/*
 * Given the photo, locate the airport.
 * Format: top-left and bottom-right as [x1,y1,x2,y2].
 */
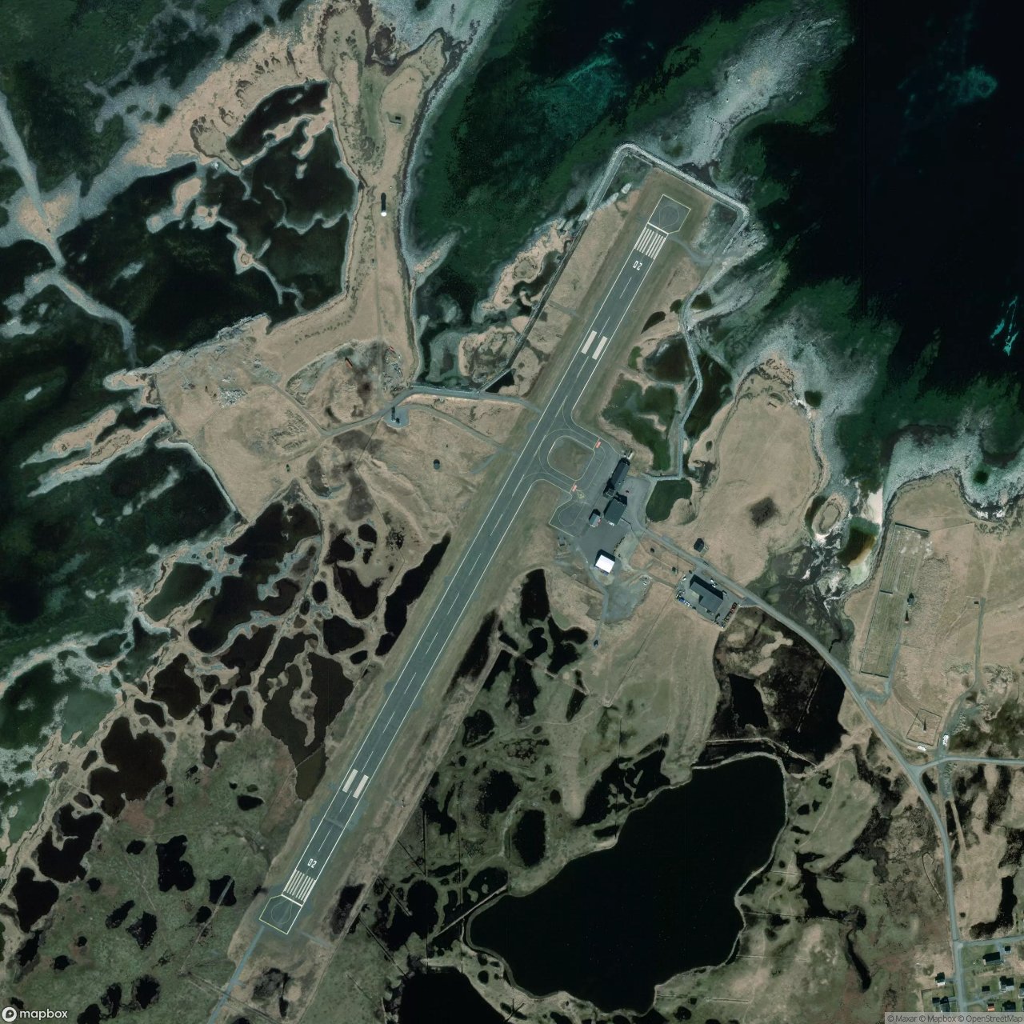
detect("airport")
[259,194,691,935]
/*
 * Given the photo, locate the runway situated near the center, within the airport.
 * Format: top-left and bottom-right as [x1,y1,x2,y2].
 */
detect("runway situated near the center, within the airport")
[259,194,691,935]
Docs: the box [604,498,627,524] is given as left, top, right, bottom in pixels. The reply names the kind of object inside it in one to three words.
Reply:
hangar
